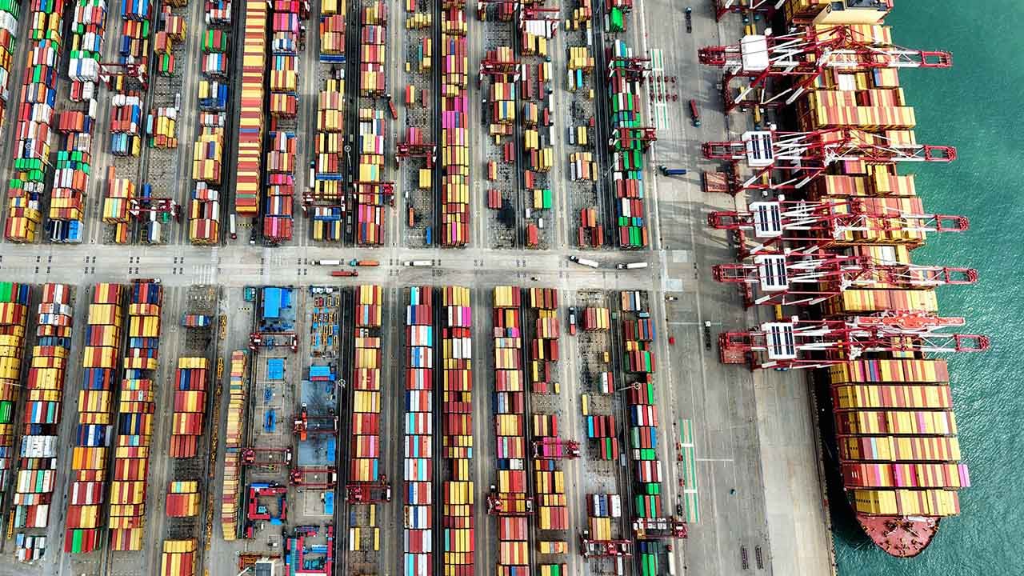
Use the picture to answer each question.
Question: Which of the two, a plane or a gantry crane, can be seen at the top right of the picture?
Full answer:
The feature located at the top right of the picture is a gantry crane.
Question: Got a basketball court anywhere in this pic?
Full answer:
No, no basketball court is visible in the scene.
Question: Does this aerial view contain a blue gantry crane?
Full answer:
No, the photo shows no blue gantry crane.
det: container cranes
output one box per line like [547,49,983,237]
[345,480,392,504]
[599,59,652,92]
[353,182,400,210]
[690,17,948,116]
[707,245,983,314]
[268,0,314,25]
[130,198,192,226]
[697,118,963,202]
[303,194,351,222]
[241,446,300,467]
[601,127,656,158]
[249,332,305,355]
[703,192,975,264]
[474,0,520,28]
[393,143,436,173]
[513,9,560,44]
[289,466,343,489]
[98,63,162,96]
[483,490,533,514]
[525,438,580,460]
[293,414,345,436]
[620,513,689,539]
[718,0,791,32]
[477,61,521,94]
[570,531,632,558]
[713,313,994,375]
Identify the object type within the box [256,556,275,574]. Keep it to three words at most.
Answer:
shed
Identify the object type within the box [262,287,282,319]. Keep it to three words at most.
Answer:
shed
